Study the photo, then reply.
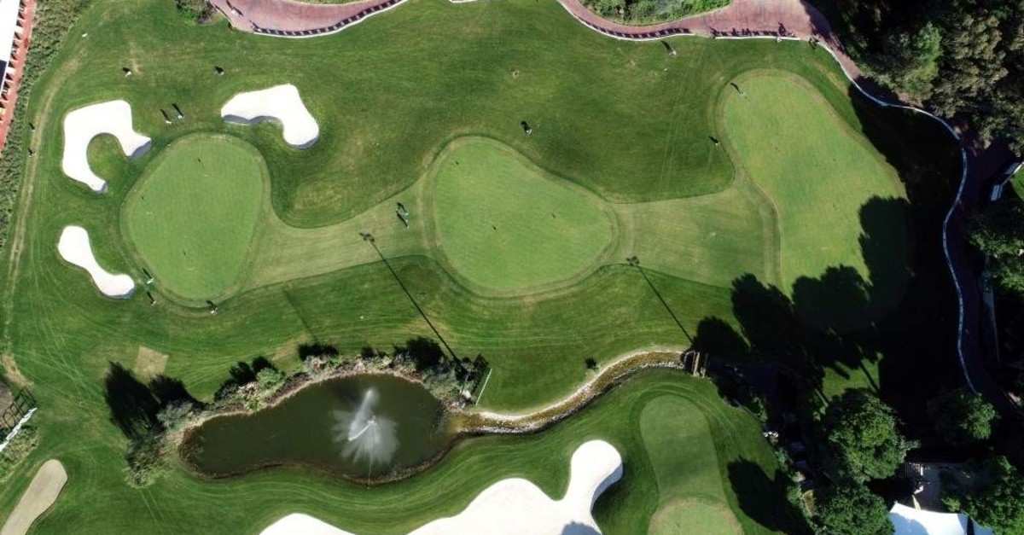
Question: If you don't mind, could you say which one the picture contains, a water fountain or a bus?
water fountain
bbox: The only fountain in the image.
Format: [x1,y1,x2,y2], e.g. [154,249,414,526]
[334,378,426,488]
